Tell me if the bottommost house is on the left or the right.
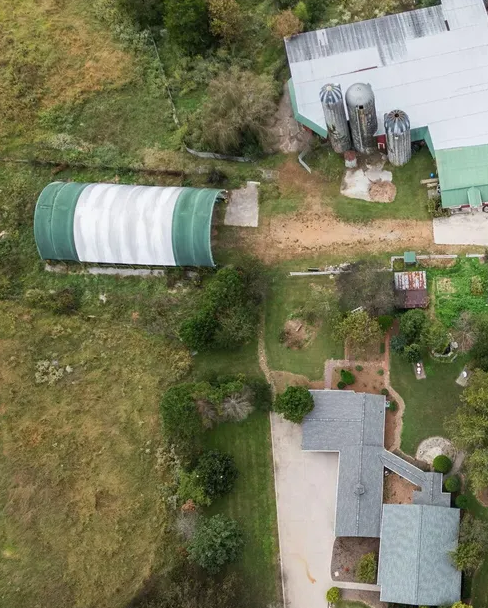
right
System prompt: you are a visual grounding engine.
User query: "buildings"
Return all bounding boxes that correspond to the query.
[393,271,428,312]
[403,247,415,264]
[285,0,488,217]
[33,181,228,270]
[300,390,462,605]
